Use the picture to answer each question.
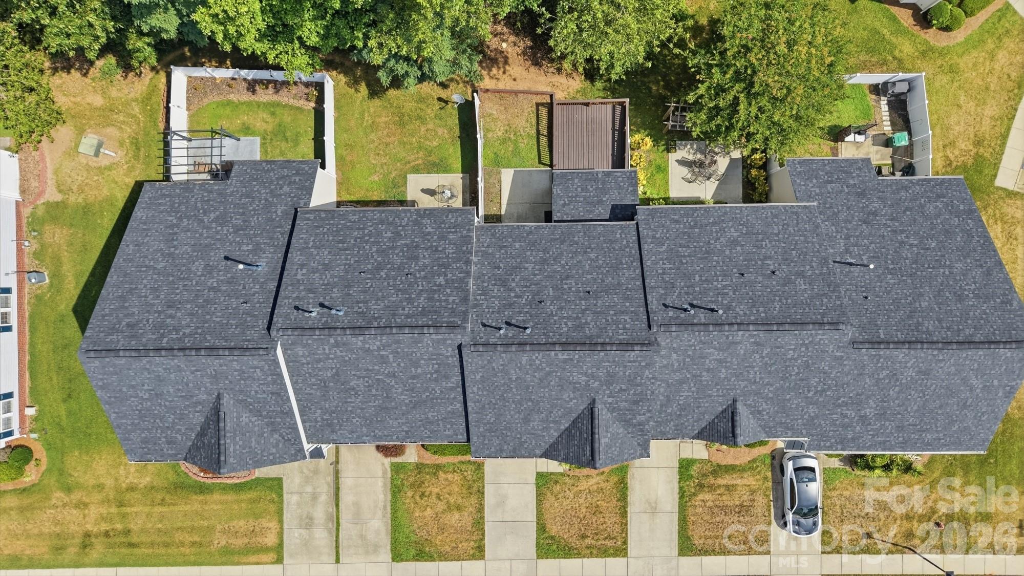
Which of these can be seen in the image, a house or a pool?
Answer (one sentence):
There is a house in the scene.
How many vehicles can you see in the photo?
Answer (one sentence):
The picture shows just 1 vehicle.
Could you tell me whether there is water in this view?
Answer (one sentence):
No, the scene doesn't show any water.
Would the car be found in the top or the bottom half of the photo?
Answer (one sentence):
Seen from above, the car lies in the bottom half of the view.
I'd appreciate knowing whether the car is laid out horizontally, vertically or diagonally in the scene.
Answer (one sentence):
The car is laid out vertically.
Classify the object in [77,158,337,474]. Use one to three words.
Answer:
house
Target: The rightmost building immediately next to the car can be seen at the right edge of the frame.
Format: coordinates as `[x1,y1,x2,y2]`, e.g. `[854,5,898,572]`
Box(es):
[767,156,1024,455]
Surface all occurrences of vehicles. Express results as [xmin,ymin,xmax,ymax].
[782,450,827,536]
